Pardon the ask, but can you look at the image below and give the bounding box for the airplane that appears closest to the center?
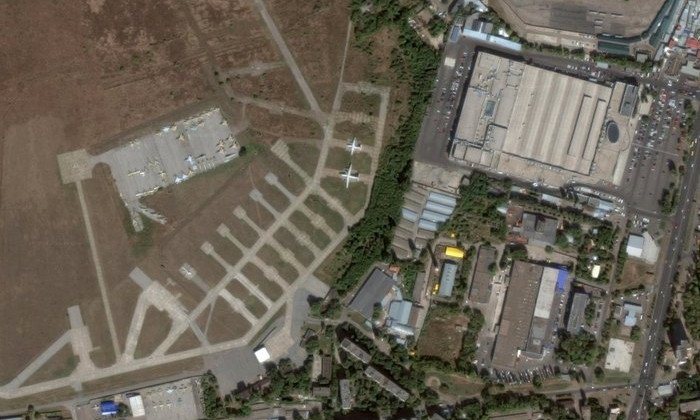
[339,165,358,187]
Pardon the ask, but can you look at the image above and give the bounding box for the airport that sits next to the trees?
[0,0,392,420]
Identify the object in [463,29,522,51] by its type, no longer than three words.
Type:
building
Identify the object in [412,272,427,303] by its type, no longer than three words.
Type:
shed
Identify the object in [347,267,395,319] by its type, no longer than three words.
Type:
building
